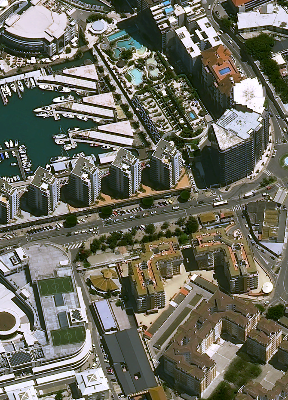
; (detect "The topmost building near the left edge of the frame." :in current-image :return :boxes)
[3,0,68,56]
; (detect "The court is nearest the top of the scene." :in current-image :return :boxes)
[38,276,75,298]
